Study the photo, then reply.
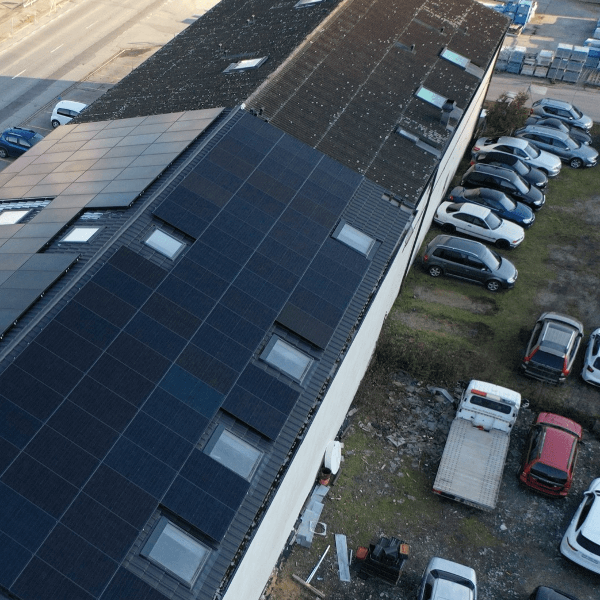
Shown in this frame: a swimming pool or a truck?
truck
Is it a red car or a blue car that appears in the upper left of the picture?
blue car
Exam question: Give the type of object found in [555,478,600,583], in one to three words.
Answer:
car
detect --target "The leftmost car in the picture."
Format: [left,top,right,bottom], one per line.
[0,126,44,158]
